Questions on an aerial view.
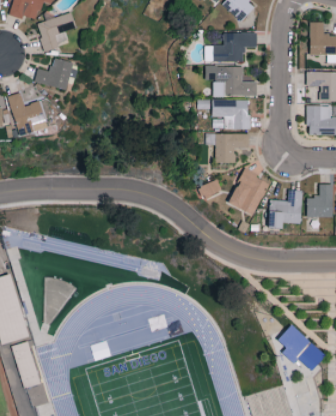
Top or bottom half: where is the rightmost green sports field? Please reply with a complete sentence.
It is in the bottom half that the rightmost green sports field appears.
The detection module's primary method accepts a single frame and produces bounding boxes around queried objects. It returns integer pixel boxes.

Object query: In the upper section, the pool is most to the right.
[187,37,204,64]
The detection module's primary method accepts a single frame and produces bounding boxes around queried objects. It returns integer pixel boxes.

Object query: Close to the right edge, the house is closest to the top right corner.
[310,22,336,64]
